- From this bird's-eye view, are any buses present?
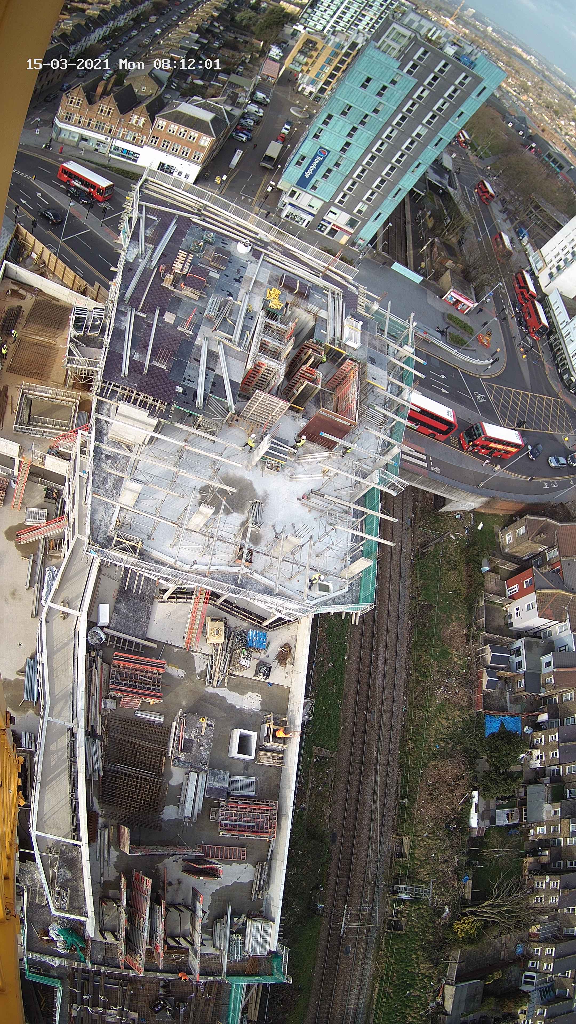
Yes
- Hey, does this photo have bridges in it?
Yes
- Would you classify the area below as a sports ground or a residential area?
residential area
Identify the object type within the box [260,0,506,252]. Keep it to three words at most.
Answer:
building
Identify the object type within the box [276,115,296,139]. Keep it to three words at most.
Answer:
car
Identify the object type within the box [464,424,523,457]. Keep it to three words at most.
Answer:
bus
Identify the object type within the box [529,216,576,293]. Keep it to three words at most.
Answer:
building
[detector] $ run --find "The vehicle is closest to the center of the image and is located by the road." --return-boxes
[395,389,455,438]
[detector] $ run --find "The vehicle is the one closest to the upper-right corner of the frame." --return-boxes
[454,130,471,151]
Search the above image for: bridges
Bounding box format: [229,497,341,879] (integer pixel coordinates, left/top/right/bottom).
[387,457,492,512]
